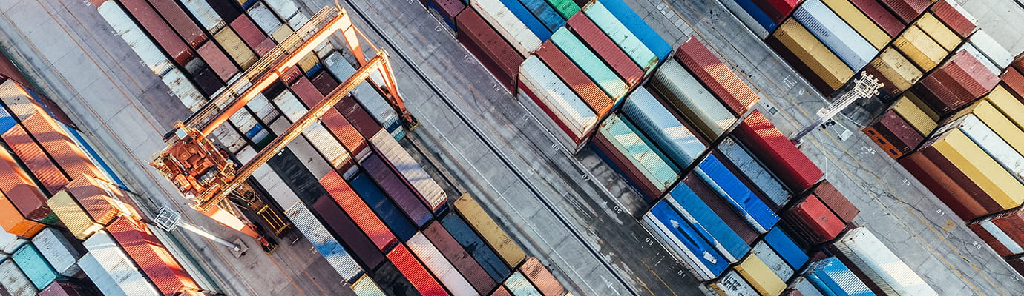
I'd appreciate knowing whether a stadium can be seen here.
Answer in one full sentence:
No, no stadium is visible in the view.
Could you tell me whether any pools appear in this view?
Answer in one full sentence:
No, I find no pool anywhere in the image.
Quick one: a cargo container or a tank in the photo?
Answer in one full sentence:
This aerial view contains a cargo container.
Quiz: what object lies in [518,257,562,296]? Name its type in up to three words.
shipping container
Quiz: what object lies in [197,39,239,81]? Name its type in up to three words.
shipping container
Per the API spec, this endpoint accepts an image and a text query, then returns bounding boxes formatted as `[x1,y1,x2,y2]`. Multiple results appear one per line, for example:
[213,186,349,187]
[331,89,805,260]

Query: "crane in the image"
[133,0,426,263]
